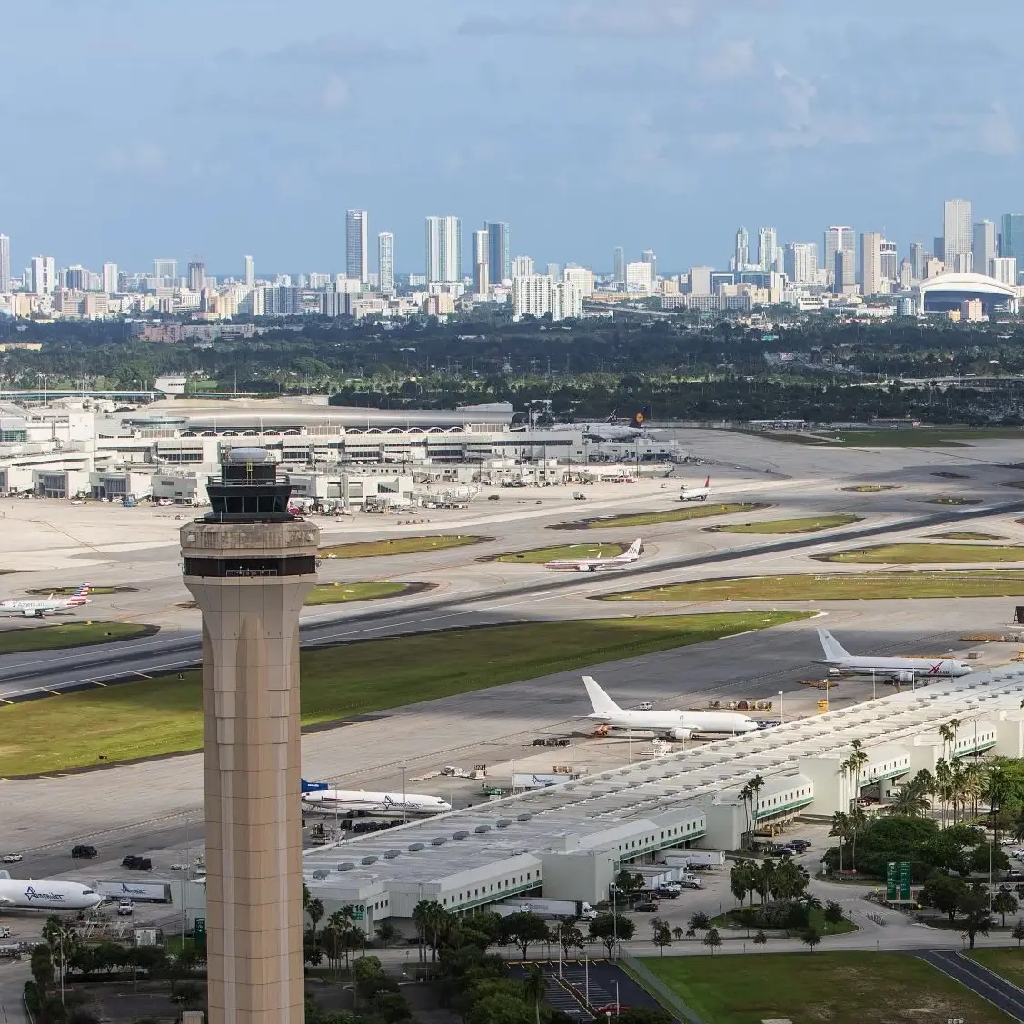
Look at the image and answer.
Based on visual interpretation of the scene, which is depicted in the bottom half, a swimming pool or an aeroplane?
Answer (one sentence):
Looking in the bottom half, you will find an aeroplane.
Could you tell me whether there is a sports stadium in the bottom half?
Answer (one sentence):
No, no sports stadium is visible in the bottom half.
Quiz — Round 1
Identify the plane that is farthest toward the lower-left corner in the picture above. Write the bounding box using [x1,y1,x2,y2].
[0,873,99,918]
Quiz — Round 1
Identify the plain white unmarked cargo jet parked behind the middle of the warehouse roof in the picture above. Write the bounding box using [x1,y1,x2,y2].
[578,678,759,742]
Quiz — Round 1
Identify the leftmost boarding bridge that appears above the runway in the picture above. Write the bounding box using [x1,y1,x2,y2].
[22,483,42,496]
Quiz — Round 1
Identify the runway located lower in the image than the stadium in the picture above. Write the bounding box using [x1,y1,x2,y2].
[0,496,1024,700]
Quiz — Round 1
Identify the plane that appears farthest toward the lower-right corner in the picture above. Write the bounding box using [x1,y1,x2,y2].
[812,628,970,683]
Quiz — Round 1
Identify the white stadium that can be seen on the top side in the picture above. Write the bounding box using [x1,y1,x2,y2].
[906,273,1019,315]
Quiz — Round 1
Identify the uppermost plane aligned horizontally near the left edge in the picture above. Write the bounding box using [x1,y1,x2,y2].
[3,587,100,618]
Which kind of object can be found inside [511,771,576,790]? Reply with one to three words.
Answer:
trailer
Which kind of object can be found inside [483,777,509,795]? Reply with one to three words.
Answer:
work vehicle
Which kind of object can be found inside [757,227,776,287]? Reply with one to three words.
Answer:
building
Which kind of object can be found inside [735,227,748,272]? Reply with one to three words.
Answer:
building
